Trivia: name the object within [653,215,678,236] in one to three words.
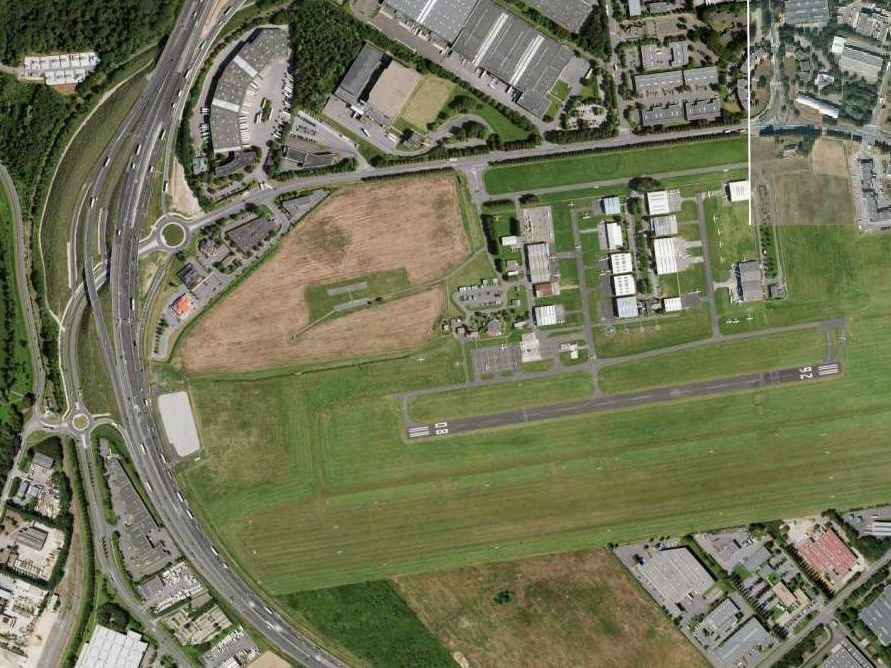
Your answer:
hangar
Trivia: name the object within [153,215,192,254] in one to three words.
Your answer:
roundabout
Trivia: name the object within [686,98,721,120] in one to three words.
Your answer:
building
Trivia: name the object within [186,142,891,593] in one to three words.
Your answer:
airport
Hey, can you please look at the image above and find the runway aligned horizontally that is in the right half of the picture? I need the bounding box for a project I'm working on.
[406,362,840,439]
